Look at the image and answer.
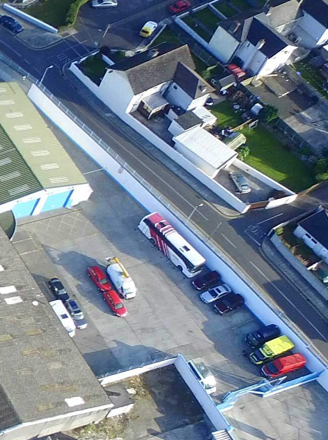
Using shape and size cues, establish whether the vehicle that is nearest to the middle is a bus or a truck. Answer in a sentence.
I'd say the vehicle that is nearest to the middle is a bus.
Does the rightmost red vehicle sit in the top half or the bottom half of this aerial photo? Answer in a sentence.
The rightmost red vehicle is in the bottom half of the image.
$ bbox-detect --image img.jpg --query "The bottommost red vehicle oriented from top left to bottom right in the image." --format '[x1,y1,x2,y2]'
[103,292,127,316]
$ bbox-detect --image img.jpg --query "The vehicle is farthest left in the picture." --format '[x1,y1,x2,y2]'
[0,19,22,34]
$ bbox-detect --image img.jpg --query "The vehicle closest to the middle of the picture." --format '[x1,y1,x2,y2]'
[133,214,205,279]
